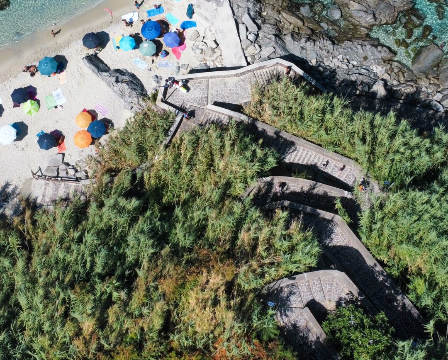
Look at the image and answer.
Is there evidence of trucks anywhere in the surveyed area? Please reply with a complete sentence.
No, the scene contains no truck.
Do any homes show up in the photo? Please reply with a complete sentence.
No, no home is visible in the view.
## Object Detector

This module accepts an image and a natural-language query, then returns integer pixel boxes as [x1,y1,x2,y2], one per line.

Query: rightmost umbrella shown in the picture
[164,33,179,48]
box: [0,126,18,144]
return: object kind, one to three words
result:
umbrella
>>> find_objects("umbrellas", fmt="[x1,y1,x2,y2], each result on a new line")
[141,21,161,39]
[0,126,18,144]
[38,58,58,76]
[22,100,38,115]
[9,88,28,105]
[83,32,100,49]
[76,111,92,127]
[38,132,55,149]
[164,33,179,48]
[140,40,156,56]
[74,131,91,148]
[118,36,135,52]
[88,120,106,137]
